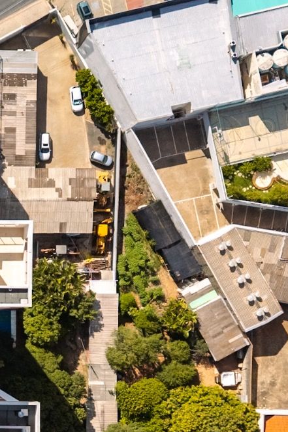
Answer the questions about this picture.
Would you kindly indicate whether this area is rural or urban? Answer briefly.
urban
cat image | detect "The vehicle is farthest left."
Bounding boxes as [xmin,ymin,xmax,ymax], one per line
[38,133,52,161]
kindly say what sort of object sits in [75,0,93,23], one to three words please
car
